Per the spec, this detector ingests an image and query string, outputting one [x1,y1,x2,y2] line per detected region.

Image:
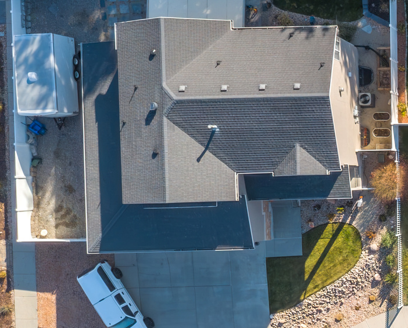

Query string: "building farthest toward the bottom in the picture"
[83,17,359,252]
